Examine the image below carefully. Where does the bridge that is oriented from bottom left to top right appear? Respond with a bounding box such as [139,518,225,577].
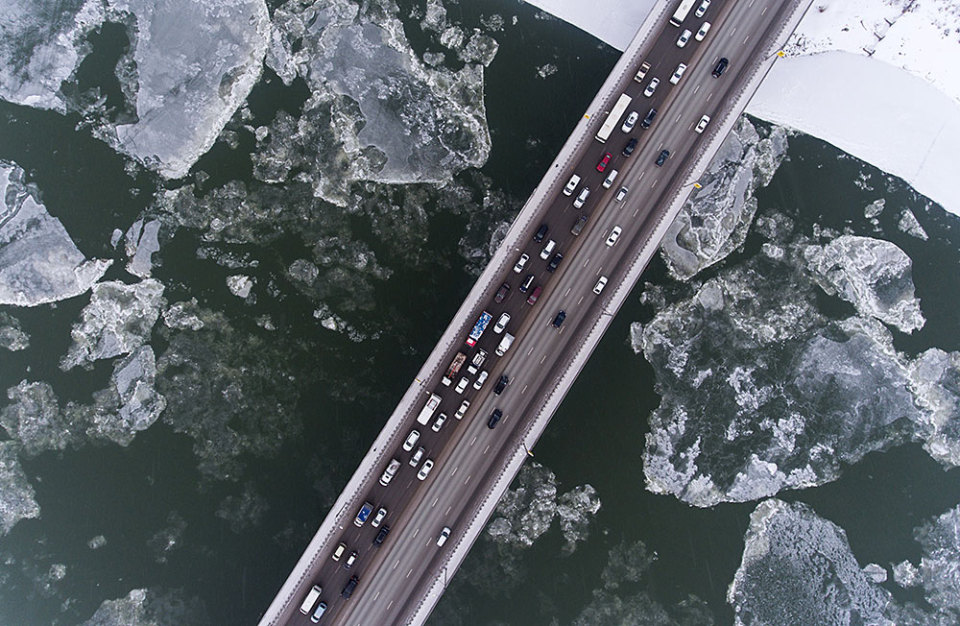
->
[260,0,814,626]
